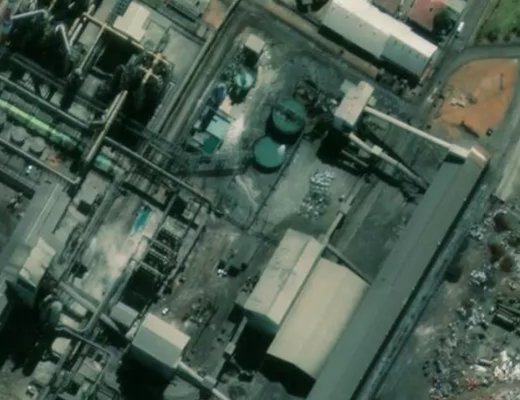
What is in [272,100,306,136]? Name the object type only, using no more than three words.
storage tank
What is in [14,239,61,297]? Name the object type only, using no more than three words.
house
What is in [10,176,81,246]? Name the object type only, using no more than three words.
building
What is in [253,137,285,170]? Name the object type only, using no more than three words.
storage tank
